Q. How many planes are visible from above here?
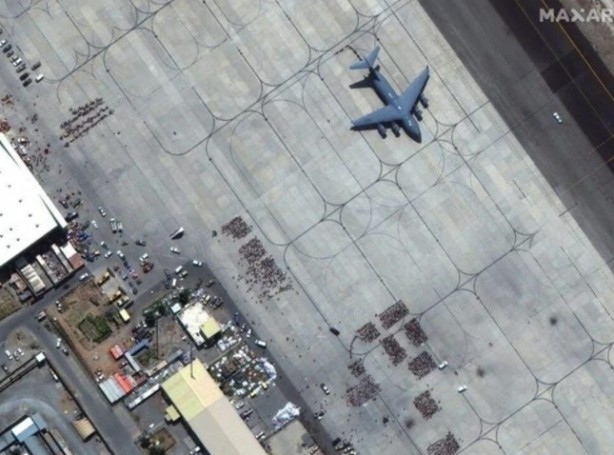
1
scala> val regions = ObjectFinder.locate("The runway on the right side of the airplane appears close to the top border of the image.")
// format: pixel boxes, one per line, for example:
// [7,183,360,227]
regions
[490,0,614,173]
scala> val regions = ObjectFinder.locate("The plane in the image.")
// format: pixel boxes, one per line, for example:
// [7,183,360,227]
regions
[347,46,431,142]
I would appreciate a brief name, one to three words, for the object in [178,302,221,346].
building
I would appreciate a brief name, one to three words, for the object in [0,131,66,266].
hangar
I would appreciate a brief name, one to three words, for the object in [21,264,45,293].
building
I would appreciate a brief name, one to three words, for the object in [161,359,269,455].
hangar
